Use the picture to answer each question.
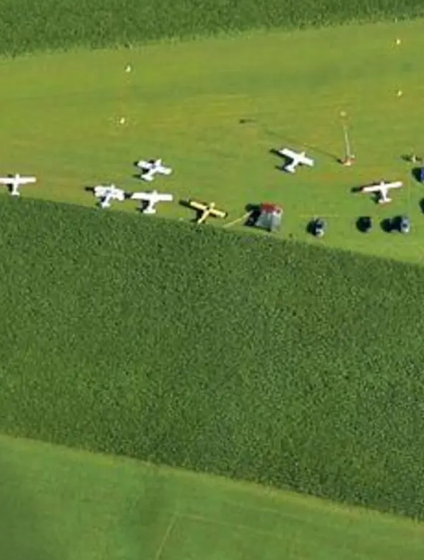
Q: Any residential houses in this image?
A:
No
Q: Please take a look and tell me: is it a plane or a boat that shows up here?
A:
plane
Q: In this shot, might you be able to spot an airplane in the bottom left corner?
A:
No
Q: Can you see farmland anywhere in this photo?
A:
Yes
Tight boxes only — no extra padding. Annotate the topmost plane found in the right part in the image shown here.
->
[279,148,315,173]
